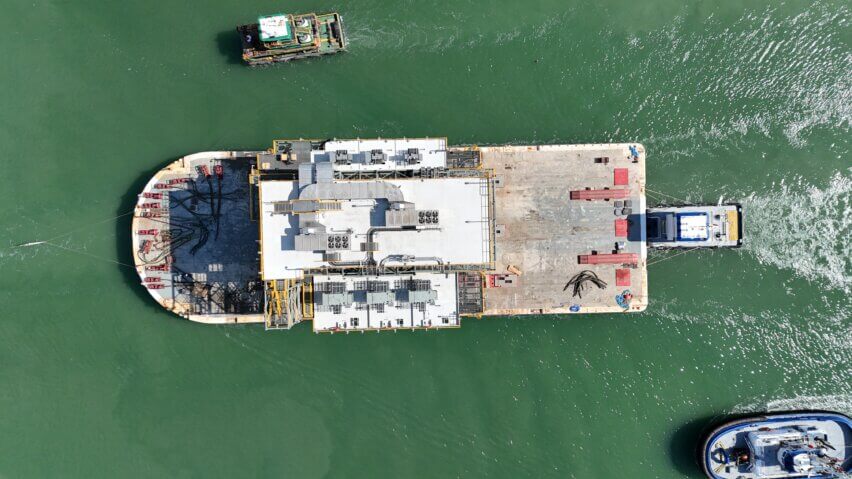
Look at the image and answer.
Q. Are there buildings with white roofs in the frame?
Yes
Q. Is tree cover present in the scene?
No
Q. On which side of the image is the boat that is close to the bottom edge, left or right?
right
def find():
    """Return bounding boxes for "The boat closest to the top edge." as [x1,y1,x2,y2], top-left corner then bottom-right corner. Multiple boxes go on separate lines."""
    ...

[240,9,343,69]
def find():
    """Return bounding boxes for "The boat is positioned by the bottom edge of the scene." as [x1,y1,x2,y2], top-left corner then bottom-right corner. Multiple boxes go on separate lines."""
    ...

[697,408,852,479]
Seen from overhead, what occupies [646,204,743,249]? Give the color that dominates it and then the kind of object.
white boat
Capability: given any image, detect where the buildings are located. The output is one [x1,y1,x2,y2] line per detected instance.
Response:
[312,273,460,336]
[257,160,492,280]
